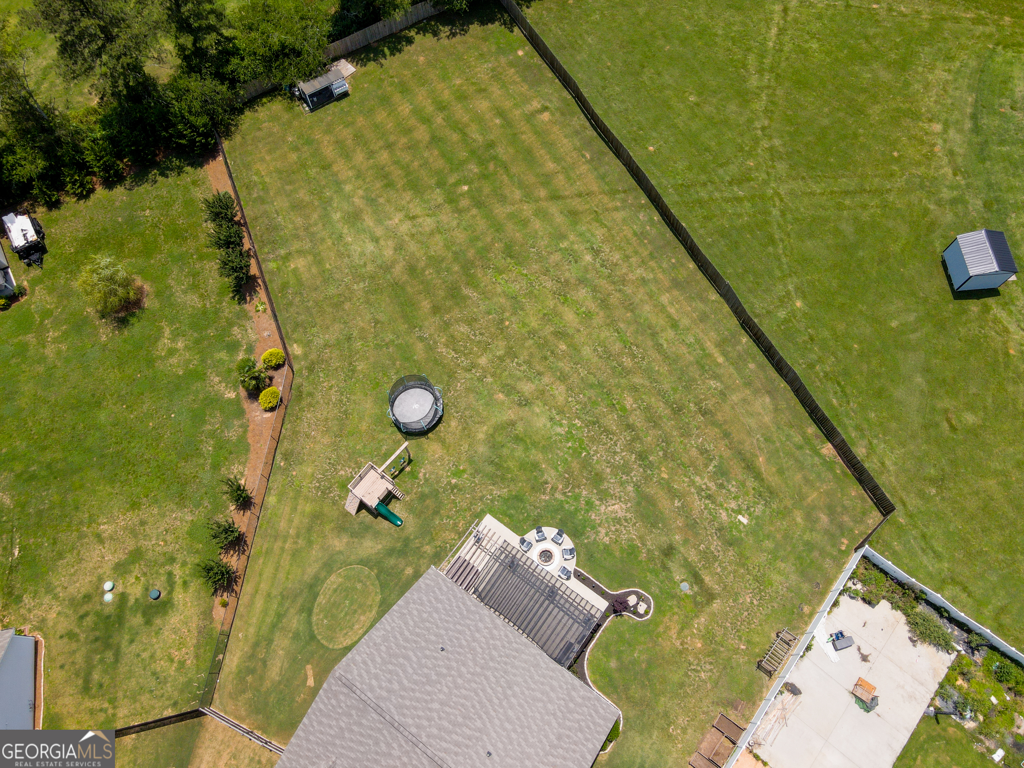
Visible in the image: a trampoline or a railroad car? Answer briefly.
trampoline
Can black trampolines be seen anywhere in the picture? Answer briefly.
No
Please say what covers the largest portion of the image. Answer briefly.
grass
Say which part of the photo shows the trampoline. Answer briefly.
center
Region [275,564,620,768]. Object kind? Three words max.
house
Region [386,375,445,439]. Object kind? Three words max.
trampoline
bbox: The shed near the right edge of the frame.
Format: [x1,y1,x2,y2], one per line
[941,228,1018,291]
